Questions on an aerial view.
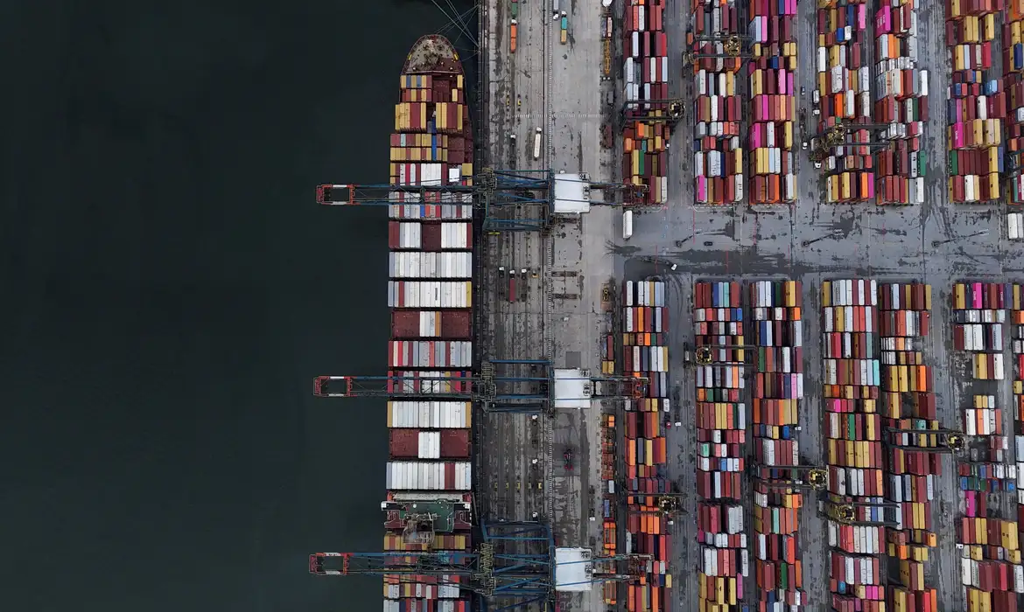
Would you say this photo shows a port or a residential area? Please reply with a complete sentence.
This looks like a port.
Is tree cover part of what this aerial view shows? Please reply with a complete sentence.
No, tree cover can't be seen anywhere here.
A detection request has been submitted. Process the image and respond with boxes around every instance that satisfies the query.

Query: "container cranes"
[681,340,759,370]
[679,34,756,79]
[740,453,828,488]
[311,503,659,597]
[316,165,655,245]
[809,487,901,528]
[862,418,967,452]
[805,122,894,162]
[618,478,691,515]
[617,97,688,137]
[313,347,657,416]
